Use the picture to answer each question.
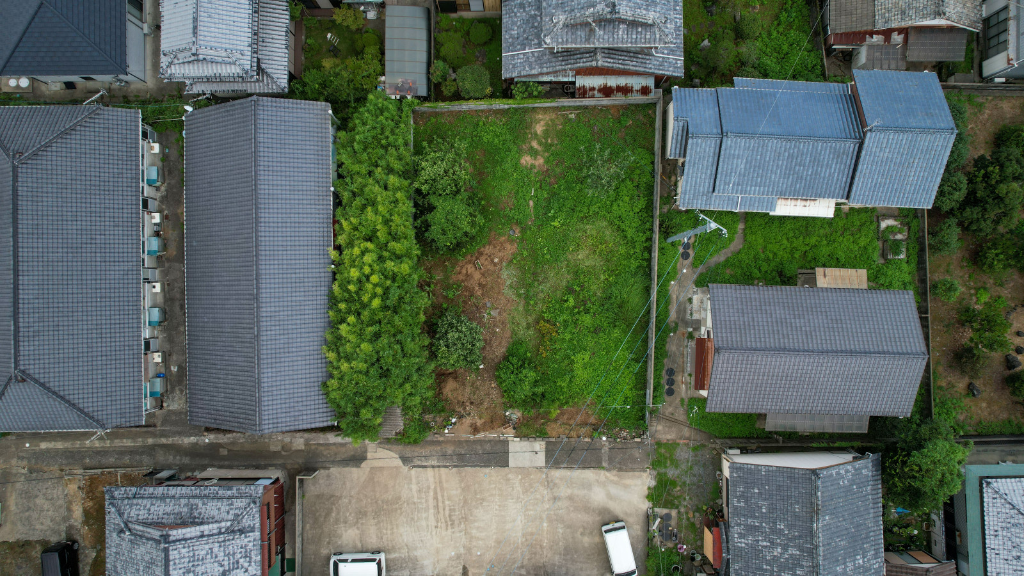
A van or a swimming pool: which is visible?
van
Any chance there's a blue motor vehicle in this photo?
No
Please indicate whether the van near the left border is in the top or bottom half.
bottom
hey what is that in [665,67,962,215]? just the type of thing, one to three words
house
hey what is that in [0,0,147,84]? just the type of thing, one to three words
house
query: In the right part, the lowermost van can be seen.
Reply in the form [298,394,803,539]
[602,522,638,576]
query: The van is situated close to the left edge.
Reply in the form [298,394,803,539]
[41,536,83,576]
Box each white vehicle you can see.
[602,522,638,576]
[330,554,387,576]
